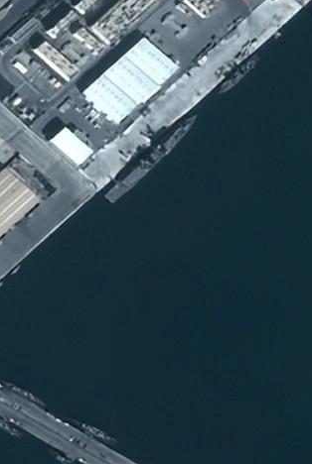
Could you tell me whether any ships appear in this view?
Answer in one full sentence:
Yes, a ship appears in the view.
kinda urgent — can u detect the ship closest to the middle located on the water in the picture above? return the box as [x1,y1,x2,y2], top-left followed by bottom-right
[106,114,199,204]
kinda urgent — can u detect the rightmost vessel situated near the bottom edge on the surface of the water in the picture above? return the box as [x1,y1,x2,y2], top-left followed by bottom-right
[70,416,119,445]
